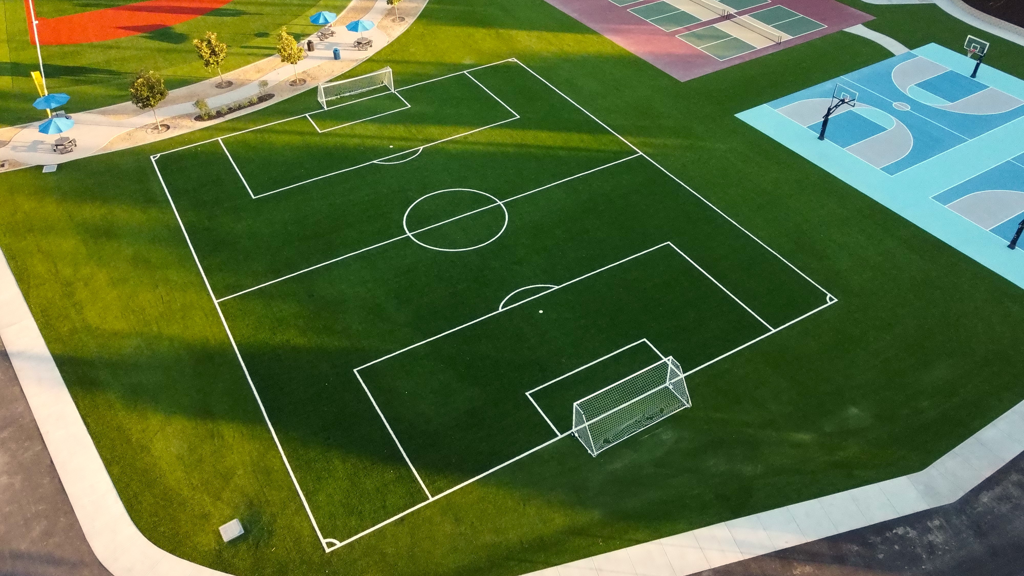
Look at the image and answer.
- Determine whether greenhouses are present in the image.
No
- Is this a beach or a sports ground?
sports ground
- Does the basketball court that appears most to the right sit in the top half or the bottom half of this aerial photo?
top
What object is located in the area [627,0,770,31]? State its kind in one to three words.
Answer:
sports court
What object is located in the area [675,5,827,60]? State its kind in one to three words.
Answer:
sports court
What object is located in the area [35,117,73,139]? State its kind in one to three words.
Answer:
umbrella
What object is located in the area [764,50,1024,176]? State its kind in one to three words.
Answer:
basketball court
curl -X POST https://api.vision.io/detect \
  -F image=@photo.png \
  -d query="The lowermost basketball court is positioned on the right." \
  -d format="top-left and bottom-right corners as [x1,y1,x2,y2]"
[927,150,1024,252]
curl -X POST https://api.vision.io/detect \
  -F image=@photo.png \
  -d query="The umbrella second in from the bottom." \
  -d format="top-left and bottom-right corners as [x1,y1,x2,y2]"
[31,91,68,117]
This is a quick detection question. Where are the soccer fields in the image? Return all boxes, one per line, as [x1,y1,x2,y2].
[153,59,835,550]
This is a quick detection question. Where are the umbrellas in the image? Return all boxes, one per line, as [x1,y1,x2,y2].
[307,11,335,27]
[347,18,375,36]
[35,117,73,139]
[31,91,68,117]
